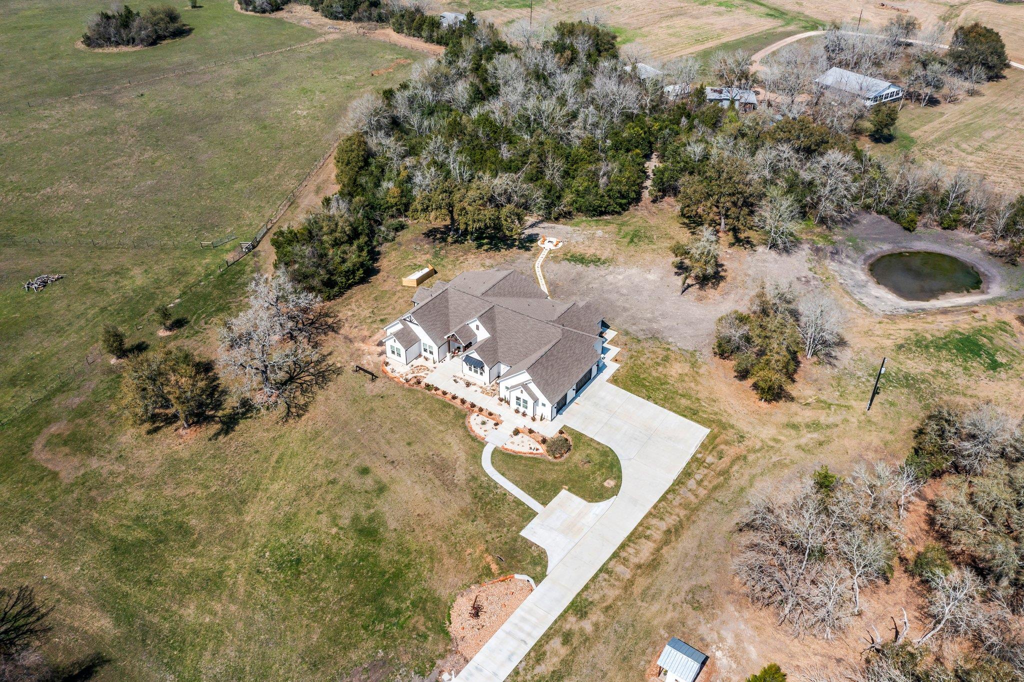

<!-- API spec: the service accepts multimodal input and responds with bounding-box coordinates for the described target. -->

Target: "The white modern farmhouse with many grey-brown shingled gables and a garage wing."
[381,270,604,421]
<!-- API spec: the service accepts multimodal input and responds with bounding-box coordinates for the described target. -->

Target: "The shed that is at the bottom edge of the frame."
[656,642,705,682]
